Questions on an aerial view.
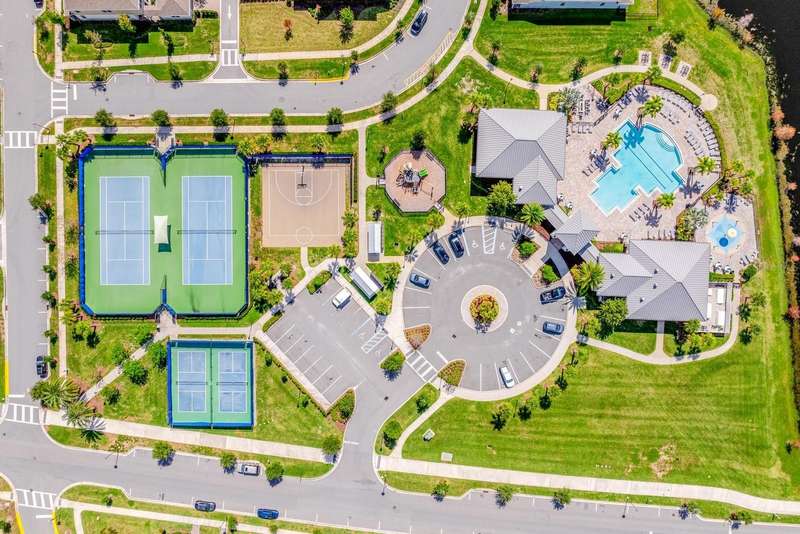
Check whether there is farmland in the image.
No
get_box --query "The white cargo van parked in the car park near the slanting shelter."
[330,287,353,308]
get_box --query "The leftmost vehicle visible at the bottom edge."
[194,499,217,512]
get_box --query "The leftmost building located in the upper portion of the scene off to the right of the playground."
[478,110,566,205]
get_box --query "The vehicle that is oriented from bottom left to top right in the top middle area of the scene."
[411,10,429,34]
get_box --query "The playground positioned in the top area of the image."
[384,150,447,212]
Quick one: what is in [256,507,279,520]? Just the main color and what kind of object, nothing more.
blue vehicle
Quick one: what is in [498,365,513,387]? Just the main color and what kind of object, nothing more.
white car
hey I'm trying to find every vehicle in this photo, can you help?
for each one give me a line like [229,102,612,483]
[194,499,217,512]
[541,322,563,333]
[330,287,353,308]
[538,287,565,303]
[498,365,513,387]
[448,231,464,256]
[411,10,429,34]
[431,241,449,263]
[409,274,431,287]
[256,507,279,520]
[36,354,49,379]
